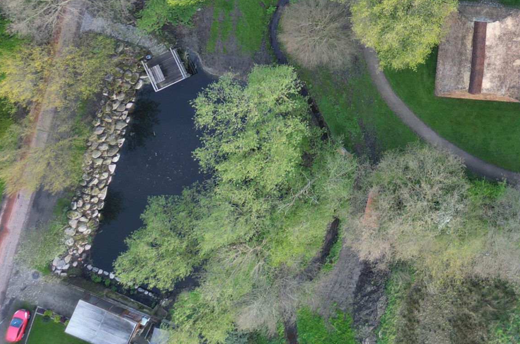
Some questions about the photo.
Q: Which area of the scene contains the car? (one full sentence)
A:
You can find the car in the bottom left area of the picture.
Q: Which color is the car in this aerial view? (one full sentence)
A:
The car looks red in the image.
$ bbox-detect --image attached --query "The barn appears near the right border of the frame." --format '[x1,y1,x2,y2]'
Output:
[435,3,520,101]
